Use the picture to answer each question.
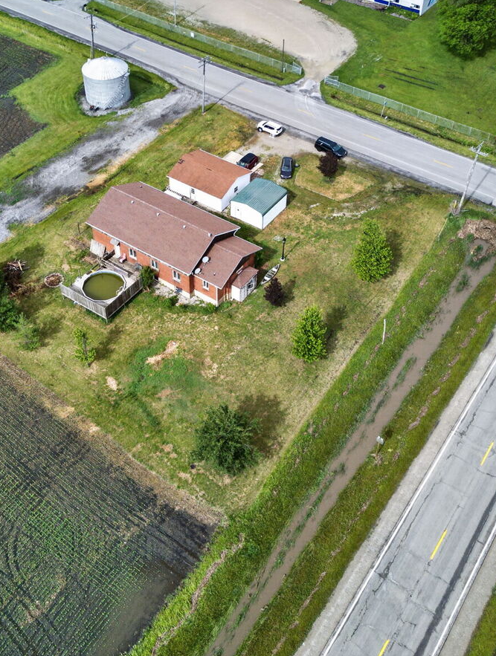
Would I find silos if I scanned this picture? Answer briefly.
Yes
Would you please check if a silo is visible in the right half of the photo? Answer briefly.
No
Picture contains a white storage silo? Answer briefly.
Yes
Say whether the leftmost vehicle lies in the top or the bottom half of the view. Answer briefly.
top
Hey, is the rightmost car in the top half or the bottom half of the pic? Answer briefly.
top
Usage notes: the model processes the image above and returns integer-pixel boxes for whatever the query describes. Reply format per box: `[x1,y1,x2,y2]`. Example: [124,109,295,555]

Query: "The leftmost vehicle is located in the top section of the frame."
[235,149,260,169]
